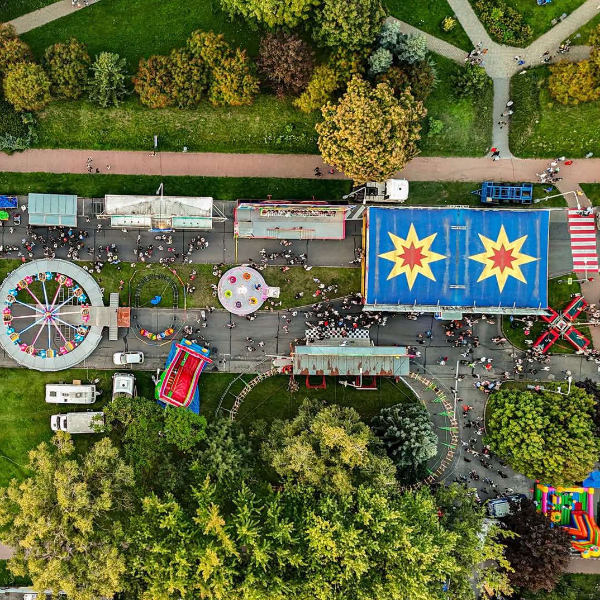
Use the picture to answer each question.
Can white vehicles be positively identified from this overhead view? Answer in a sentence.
Yes, the photo shows a white vehicle.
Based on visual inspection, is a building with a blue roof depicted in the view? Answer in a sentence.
Yes, a building with a blue roof can be made out from above.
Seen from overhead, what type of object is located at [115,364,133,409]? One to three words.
vehicle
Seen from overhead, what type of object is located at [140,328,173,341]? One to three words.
train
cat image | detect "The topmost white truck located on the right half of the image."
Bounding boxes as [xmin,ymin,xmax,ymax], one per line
[361,179,407,201]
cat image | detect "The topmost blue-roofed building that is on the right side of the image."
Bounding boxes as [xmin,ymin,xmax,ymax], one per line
[355,206,554,315]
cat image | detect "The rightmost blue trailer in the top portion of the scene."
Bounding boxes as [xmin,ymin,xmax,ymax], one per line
[465,181,531,204]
